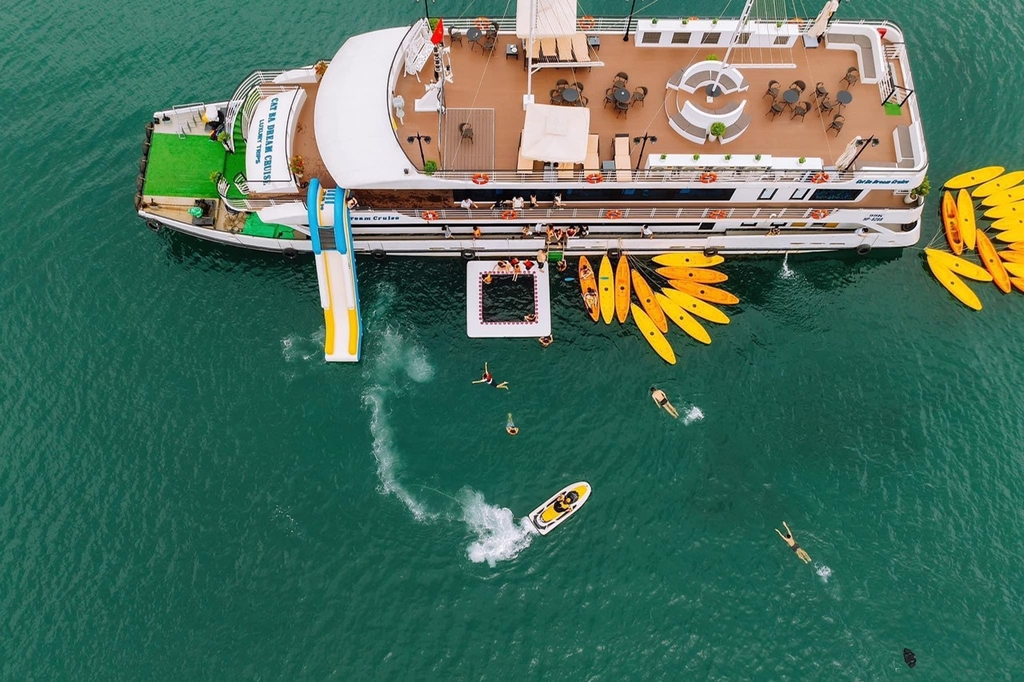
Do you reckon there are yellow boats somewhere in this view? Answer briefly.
Yes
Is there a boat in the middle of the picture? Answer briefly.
Yes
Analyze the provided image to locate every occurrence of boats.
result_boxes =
[926,254,982,310]
[598,255,615,324]
[655,291,711,345]
[977,228,1010,293]
[990,215,1024,230]
[998,248,1024,264]
[942,166,1007,189]
[995,228,1024,242]
[652,253,725,267]
[981,184,1024,206]
[971,171,1024,197]
[615,255,632,323]
[662,287,730,324]
[656,265,728,284]
[958,188,978,250]
[668,278,740,304]
[1008,276,1024,295]
[631,303,675,365]
[1007,241,1024,251]
[983,199,1024,218]
[529,484,590,539]
[941,190,963,255]
[925,247,994,281]
[1002,262,1024,279]
[631,269,667,333]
